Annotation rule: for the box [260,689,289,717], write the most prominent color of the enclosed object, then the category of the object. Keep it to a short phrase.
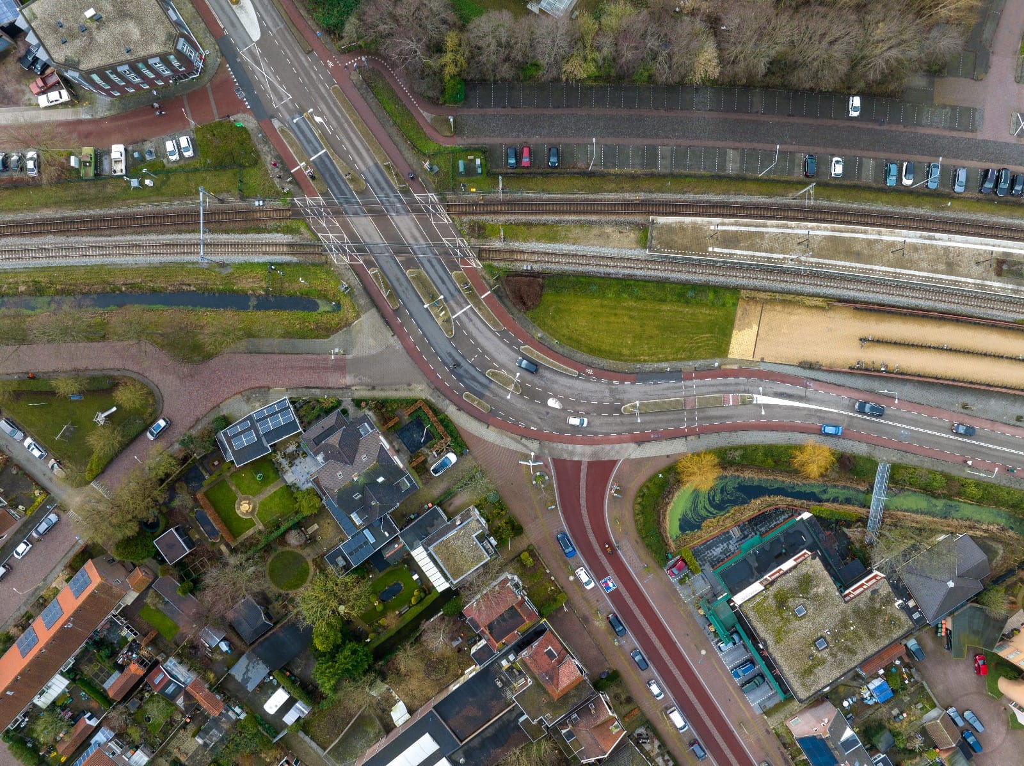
white camper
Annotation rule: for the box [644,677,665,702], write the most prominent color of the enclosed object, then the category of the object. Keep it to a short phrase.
white car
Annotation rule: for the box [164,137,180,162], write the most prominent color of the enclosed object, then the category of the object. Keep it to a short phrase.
white car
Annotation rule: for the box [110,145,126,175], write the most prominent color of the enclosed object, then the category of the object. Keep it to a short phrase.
white vehicle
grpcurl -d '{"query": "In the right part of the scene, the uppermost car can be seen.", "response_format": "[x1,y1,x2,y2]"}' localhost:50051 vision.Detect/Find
[848,92,863,119]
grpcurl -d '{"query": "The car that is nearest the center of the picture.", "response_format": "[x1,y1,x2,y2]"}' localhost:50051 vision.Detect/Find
[513,356,541,375]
